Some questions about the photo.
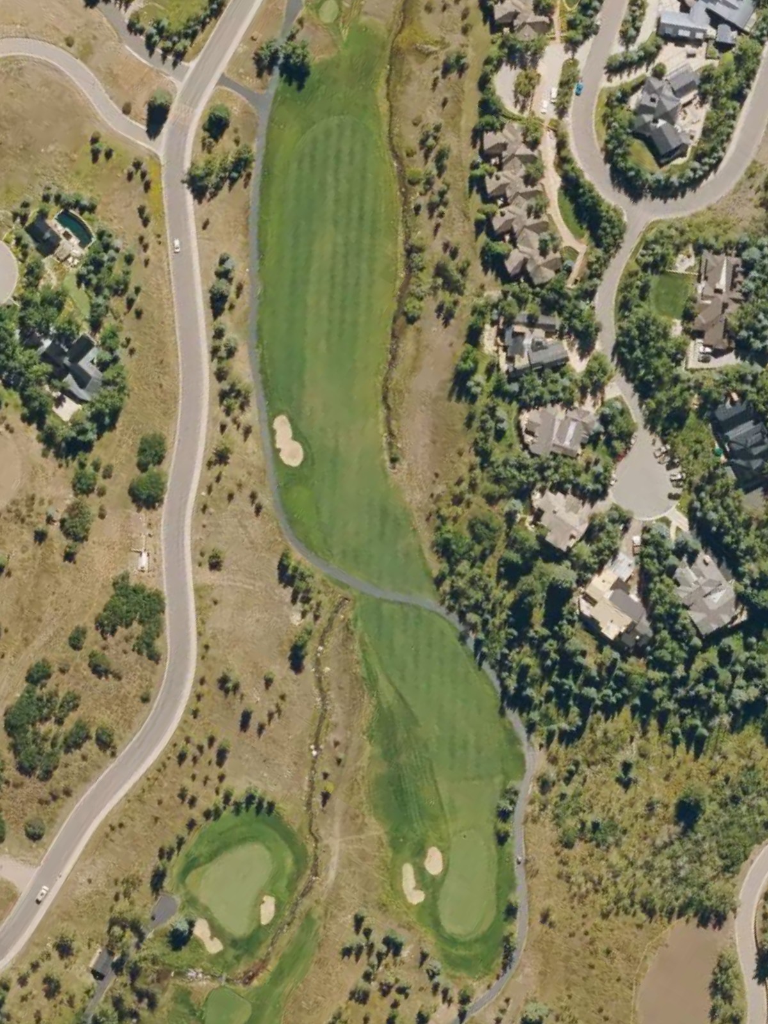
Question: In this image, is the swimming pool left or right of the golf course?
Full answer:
Compared with the golf course, the swimming pool is located further to the left.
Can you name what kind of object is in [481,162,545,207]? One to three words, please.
house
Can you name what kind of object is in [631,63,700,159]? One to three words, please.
house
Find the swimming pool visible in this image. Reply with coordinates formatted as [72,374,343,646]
[54,209,94,248]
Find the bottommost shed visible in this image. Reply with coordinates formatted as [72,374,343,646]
[90,949,115,978]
